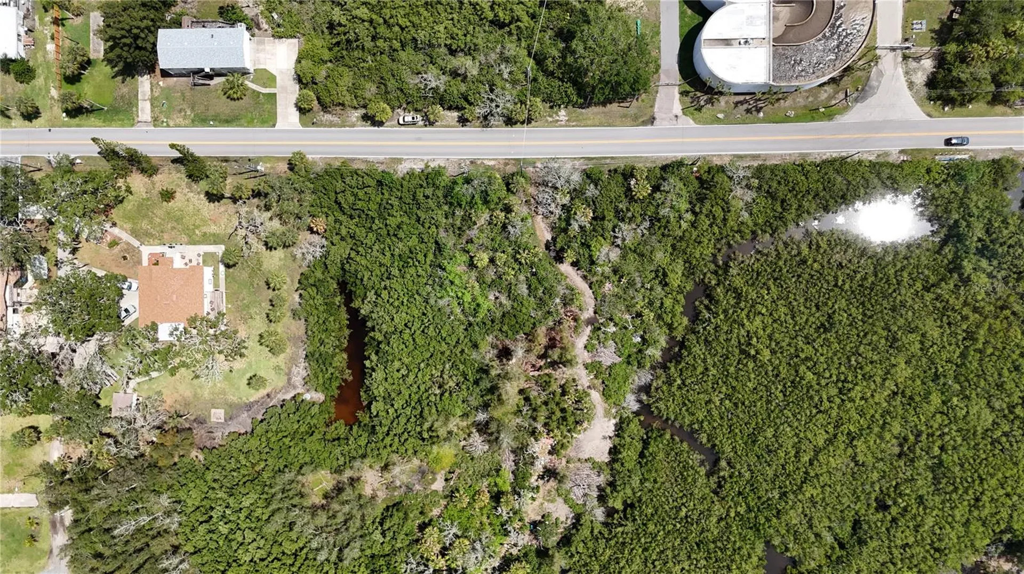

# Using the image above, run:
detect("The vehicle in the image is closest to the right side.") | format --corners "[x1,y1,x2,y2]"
[946,134,971,146]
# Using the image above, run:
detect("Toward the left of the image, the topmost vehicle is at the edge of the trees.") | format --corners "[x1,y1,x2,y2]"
[397,112,421,125]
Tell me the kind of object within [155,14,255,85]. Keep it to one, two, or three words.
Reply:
house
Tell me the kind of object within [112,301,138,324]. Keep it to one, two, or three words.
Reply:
vehicle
